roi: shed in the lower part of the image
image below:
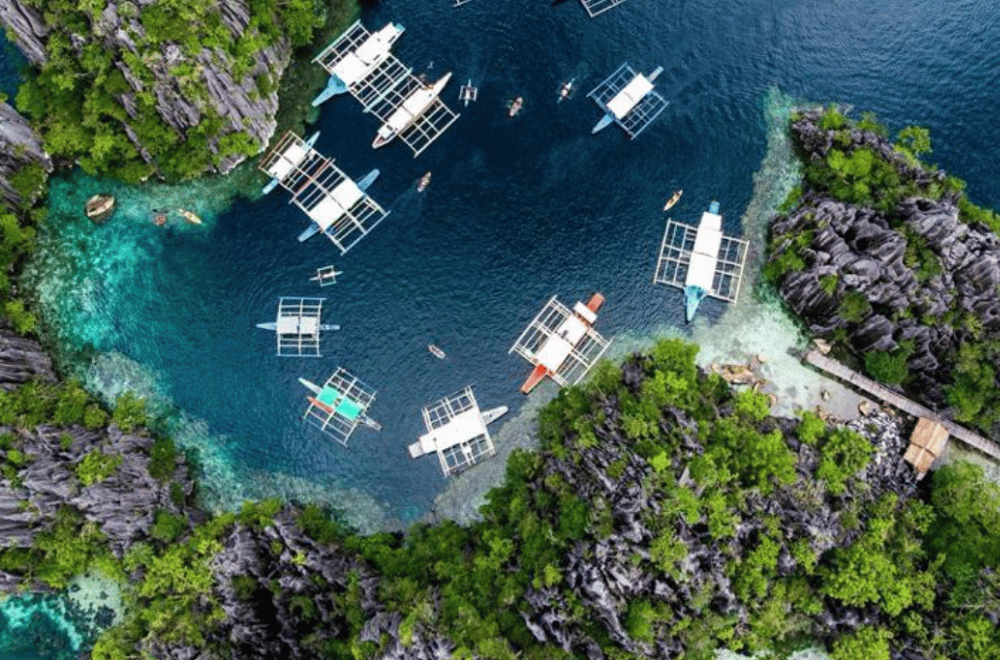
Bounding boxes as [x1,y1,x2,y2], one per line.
[900,415,949,467]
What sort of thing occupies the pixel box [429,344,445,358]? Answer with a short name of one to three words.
boat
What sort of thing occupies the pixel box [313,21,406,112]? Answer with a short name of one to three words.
boat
